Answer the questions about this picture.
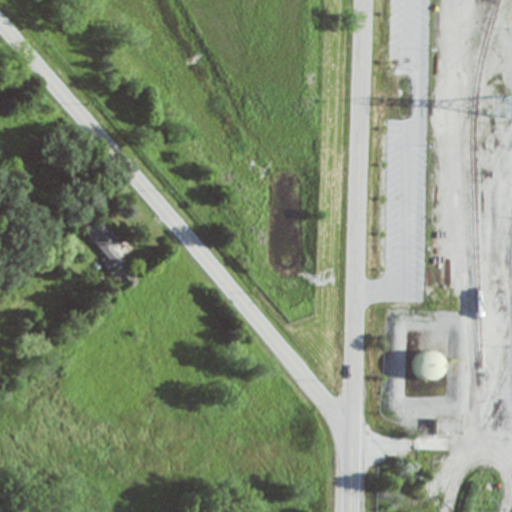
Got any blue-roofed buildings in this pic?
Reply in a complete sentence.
No, the picture doesn't show any blue-roofed building.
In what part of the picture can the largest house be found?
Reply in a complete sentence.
The largest house sits in the left section of the image.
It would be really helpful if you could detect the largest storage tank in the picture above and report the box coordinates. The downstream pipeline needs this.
[413,350,448,382]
